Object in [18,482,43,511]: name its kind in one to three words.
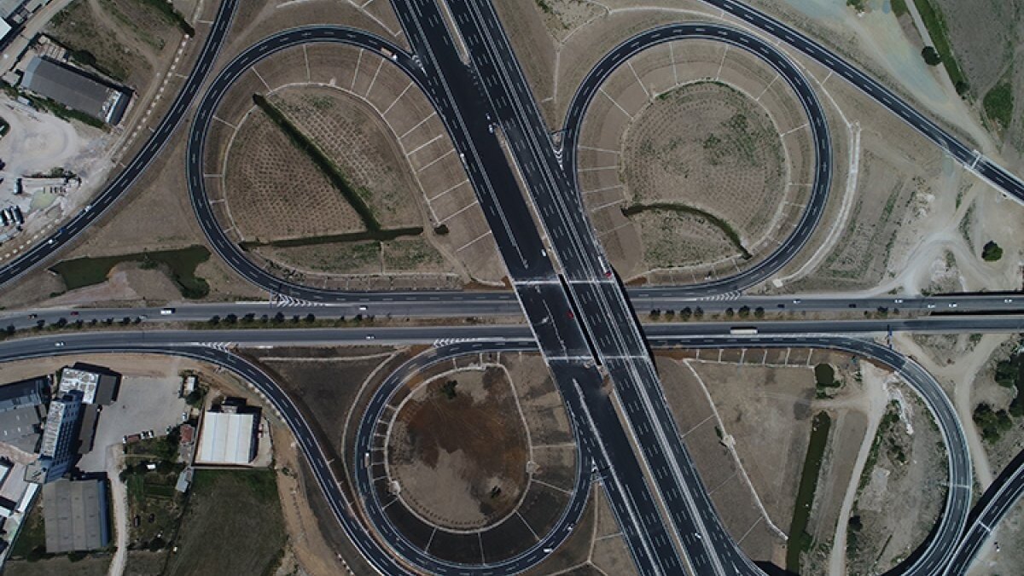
shed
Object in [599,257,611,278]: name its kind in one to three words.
vehicle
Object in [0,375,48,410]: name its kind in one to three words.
building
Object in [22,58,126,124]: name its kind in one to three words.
building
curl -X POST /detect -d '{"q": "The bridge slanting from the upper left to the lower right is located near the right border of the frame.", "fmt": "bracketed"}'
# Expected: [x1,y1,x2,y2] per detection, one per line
[973,157,1024,204]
